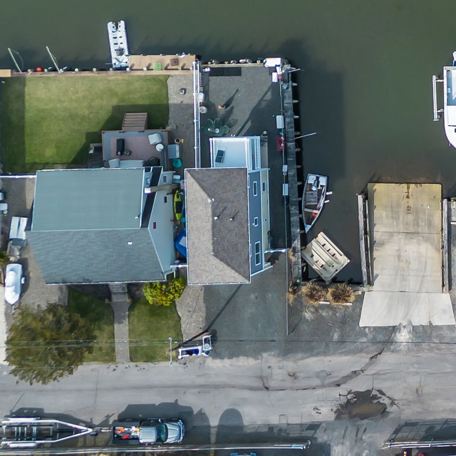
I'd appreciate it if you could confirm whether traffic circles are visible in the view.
No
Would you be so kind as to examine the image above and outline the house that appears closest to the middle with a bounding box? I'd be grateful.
[185,137,285,286]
